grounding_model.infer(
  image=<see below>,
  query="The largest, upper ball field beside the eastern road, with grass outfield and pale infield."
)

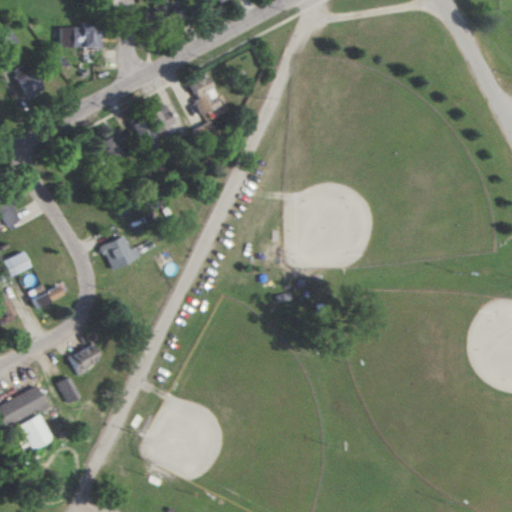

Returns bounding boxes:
[282,55,496,270]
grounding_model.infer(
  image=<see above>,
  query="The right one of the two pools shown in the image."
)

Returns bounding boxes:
[164,261,179,276]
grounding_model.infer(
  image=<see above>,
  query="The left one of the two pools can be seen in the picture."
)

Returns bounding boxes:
[22,272,38,288]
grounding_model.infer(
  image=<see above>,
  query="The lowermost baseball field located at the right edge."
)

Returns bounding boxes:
[346,288,512,512]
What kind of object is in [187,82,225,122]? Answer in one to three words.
house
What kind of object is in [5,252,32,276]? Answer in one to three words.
building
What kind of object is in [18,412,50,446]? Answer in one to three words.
building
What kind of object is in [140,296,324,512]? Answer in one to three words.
baseball field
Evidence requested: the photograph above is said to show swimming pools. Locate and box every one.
[22,272,38,288]
[164,261,179,276]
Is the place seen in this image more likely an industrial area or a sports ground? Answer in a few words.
sports ground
